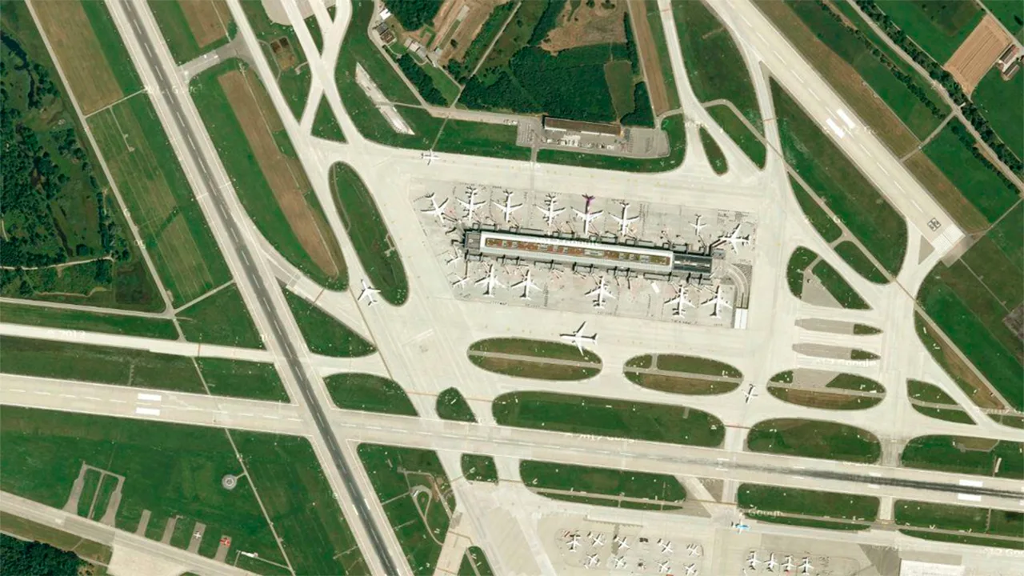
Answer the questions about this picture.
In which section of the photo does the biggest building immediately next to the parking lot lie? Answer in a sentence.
The biggest building immediately next to the parking lot appears toward the center of the photo.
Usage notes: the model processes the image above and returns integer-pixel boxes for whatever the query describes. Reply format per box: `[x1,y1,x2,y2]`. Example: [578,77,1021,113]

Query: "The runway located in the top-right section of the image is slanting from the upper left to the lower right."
[709,0,964,257]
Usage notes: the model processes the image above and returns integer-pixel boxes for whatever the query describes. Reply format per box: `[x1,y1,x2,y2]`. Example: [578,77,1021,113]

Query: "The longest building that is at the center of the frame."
[466,232,712,275]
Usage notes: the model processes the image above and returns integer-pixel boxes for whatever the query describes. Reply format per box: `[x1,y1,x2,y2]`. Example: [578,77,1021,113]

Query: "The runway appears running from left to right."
[0,373,1024,511]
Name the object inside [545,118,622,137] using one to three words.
building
